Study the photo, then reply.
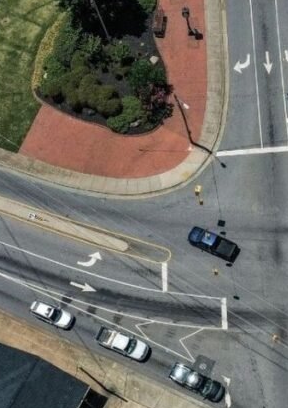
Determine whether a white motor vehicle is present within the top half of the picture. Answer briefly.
No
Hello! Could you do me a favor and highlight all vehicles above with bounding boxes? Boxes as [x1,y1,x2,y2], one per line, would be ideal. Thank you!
[187,227,240,259]
[27,298,73,328]
[95,323,150,359]
[168,362,226,400]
